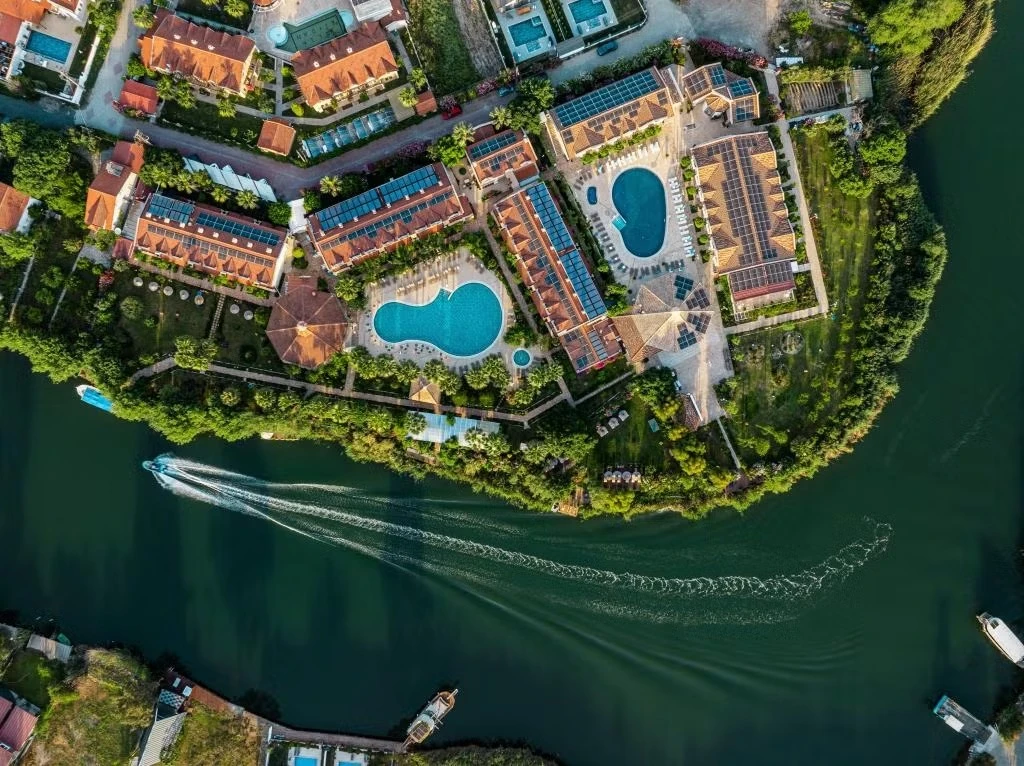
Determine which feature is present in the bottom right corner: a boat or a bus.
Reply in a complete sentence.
Looking in the bottom right corner, you will find a boat.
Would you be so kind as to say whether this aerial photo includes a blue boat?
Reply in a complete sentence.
Yes, the frame does contain a blue boat.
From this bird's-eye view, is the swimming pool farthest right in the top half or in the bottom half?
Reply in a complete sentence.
The swimming pool farthest right is in the top half of the image.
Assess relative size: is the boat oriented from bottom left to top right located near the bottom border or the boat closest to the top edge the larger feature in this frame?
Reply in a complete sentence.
The larger object is the boat oriented from bottom left to top right located near the bottom border, with the boat closest to the top edge being the smaller of the pair.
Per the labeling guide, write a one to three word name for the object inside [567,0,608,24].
swimming pool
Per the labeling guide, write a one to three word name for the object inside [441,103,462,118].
car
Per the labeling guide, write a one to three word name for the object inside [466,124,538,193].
house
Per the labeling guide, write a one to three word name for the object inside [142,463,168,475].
boat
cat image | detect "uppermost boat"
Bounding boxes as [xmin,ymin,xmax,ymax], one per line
[77,387,115,413]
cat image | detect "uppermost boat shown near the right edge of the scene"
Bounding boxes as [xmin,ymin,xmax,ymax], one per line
[981,612,1024,671]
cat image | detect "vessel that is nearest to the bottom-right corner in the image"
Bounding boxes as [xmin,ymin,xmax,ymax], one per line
[930,691,996,751]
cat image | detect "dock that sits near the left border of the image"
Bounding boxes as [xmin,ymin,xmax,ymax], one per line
[27,634,73,662]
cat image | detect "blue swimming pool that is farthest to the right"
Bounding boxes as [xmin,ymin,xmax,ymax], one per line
[610,166,668,258]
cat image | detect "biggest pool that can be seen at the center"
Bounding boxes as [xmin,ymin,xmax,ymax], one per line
[372,279,505,358]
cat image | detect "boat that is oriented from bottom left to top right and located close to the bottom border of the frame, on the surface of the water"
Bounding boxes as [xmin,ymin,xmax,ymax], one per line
[406,690,456,755]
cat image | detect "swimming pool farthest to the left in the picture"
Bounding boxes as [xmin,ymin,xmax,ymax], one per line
[27,30,73,65]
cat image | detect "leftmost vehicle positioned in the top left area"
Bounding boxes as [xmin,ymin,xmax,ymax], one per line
[186,146,200,163]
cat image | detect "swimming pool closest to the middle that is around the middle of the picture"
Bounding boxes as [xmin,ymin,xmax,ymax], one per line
[511,347,532,368]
